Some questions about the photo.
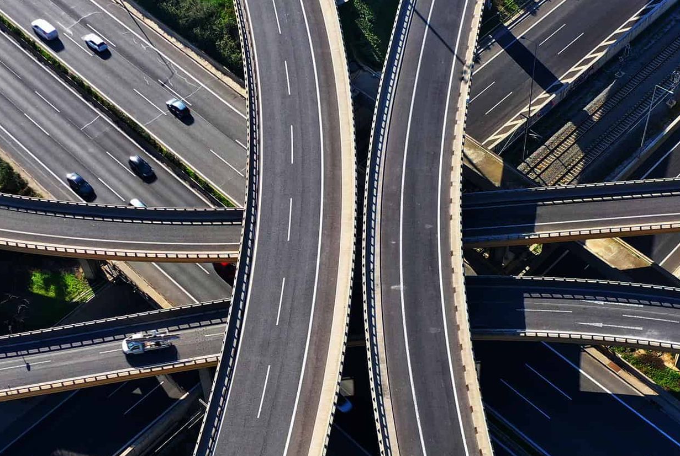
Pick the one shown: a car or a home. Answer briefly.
car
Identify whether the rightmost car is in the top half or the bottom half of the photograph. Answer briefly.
bottom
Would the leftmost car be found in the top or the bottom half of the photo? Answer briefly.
top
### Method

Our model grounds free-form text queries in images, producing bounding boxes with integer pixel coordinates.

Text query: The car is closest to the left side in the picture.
[32,21,58,41]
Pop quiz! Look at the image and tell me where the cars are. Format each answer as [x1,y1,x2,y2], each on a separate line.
[126,155,156,182]
[336,389,358,417]
[166,98,191,120]
[67,175,94,200]
[32,21,58,41]
[85,35,108,54]
[125,197,153,212]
